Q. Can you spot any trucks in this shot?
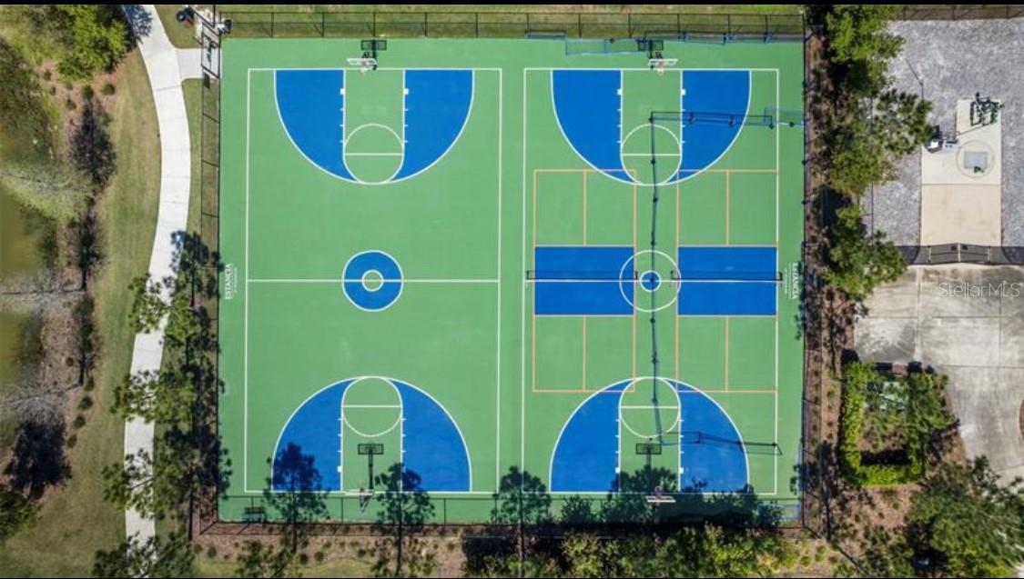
No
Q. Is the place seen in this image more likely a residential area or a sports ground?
sports ground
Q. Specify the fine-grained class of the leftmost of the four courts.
basketball court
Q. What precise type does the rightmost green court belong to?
basketball court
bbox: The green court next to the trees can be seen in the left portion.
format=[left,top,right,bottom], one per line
[216,37,512,523]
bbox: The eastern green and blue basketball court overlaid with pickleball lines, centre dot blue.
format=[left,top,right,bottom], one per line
[509,37,804,523]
